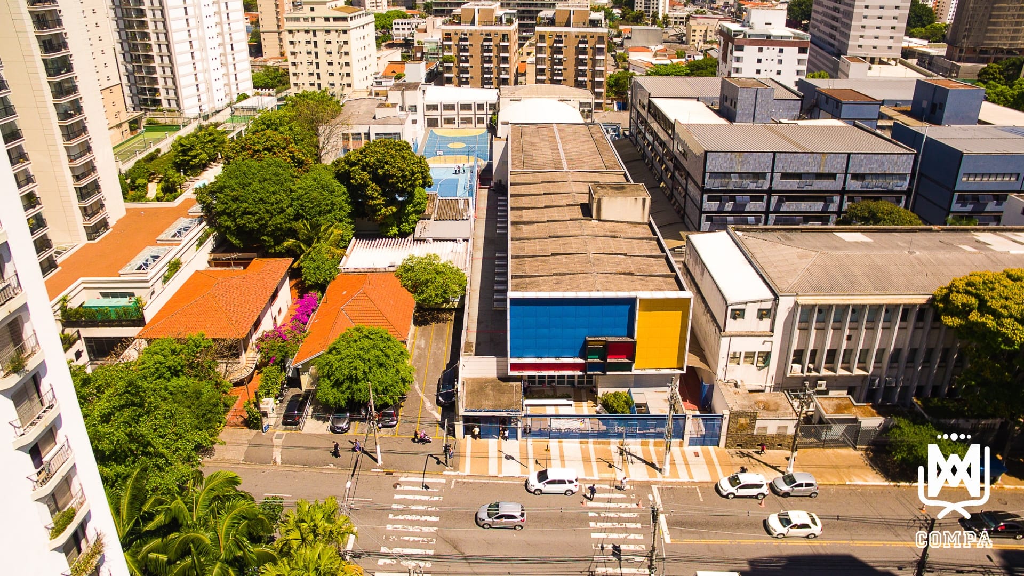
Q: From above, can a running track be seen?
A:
No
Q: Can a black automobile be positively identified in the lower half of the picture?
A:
Yes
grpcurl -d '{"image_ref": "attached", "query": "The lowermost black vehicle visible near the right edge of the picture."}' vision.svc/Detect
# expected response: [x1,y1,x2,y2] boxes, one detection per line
[966,510,1024,538]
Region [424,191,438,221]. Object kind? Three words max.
shed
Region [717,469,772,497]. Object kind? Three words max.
car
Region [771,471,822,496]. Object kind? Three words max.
car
